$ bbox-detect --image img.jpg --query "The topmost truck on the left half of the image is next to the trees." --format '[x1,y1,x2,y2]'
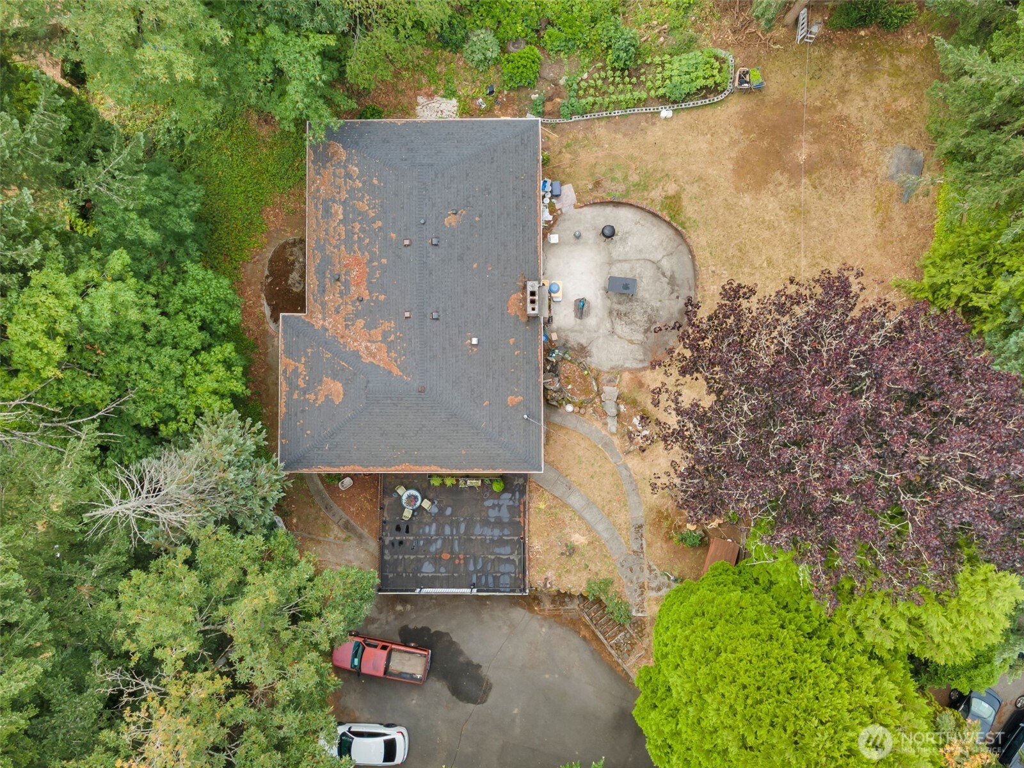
[329,629,435,686]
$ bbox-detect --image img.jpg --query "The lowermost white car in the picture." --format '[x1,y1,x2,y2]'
[323,722,409,768]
